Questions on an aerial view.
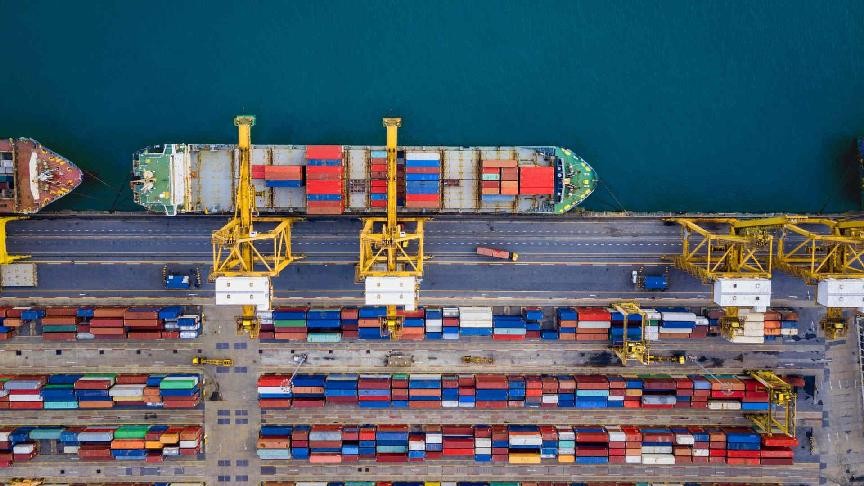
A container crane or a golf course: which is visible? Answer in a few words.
container crane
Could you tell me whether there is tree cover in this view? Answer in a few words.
No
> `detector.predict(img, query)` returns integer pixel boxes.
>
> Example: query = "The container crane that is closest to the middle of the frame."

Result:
[354,112,433,343]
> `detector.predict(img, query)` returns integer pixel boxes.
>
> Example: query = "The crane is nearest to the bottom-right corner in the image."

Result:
[744,369,795,439]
